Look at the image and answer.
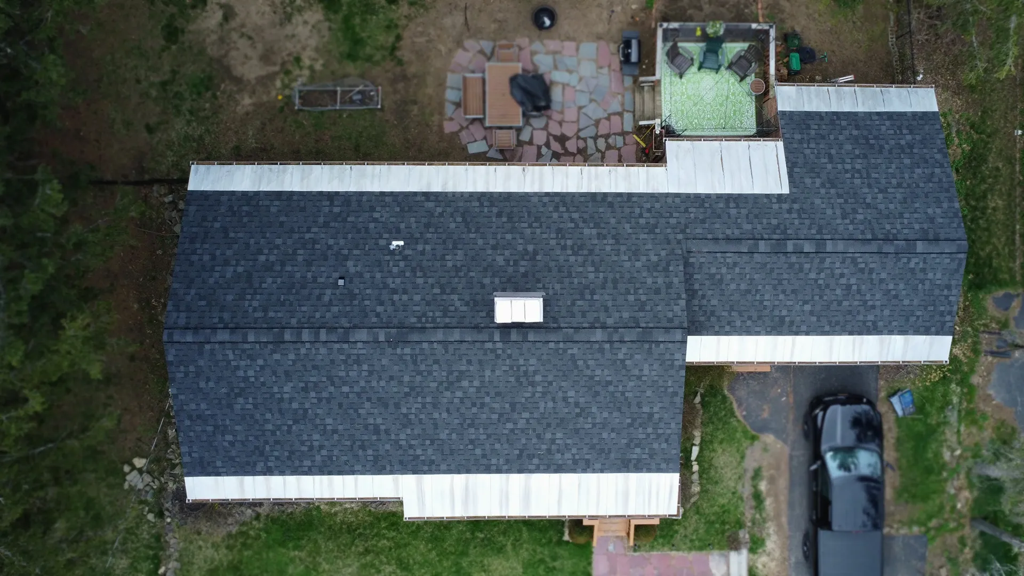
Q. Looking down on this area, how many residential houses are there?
1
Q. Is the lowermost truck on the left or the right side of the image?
right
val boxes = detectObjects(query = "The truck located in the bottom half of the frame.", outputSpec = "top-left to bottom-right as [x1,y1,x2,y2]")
[796,388,894,576]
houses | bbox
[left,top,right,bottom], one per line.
[161,81,968,522]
